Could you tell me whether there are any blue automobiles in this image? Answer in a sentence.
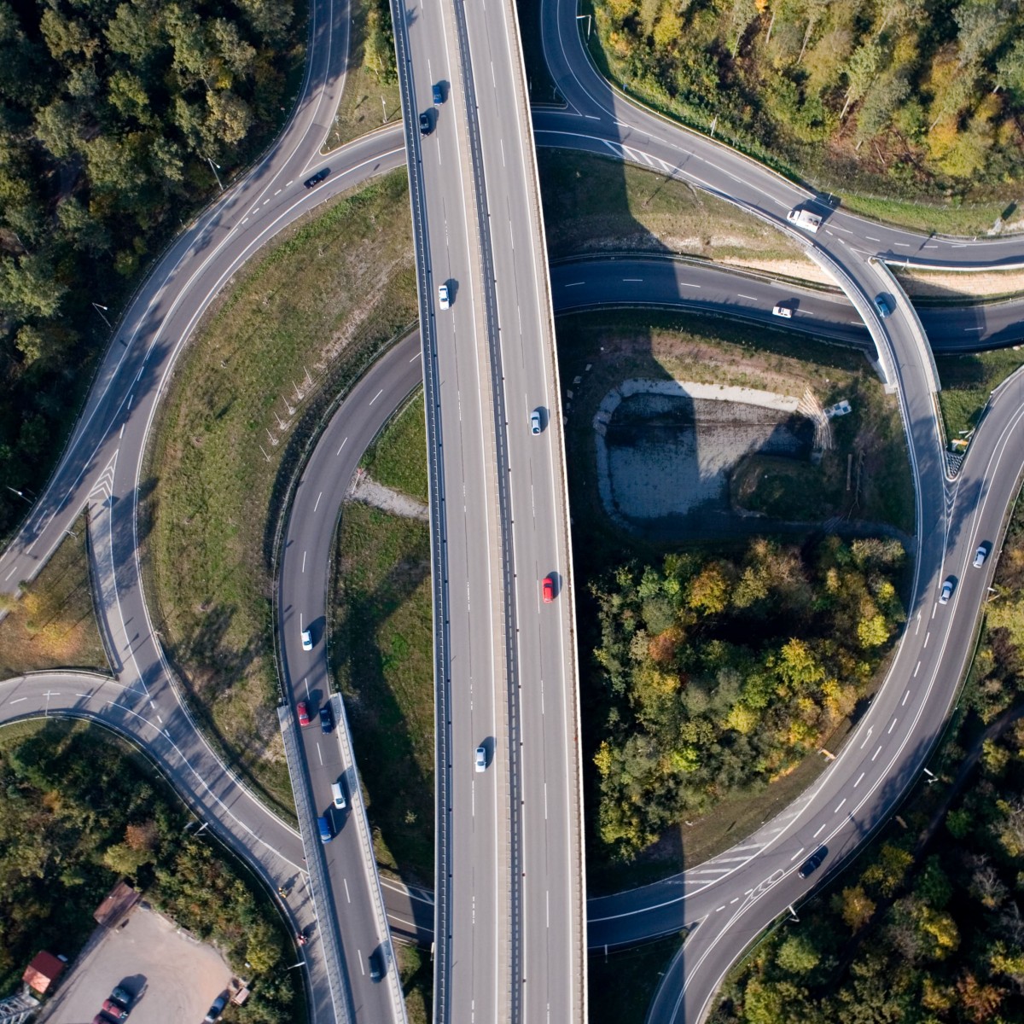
Yes, there's a blue automobile here.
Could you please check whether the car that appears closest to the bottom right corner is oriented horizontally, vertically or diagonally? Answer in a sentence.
In this picture, the car that appears closest to the bottom right corner is oriented diagonally.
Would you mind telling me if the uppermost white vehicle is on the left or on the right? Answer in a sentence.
The uppermost white vehicle is on the right side of the image.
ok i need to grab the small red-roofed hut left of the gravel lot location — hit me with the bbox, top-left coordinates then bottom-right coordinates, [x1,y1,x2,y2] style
[20,946,68,996]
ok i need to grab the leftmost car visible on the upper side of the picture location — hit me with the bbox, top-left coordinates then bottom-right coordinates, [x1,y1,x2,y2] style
[303,172,326,189]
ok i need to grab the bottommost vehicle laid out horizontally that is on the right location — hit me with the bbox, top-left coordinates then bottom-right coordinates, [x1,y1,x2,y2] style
[770,306,794,319]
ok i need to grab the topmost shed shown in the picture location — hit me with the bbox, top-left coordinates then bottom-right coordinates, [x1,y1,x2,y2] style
[90,876,145,936]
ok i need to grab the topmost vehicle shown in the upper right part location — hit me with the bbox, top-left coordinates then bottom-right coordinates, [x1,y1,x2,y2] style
[786,211,822,233]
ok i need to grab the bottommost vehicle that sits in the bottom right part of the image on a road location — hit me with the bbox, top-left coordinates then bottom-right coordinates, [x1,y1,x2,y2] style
[800,851,823,876]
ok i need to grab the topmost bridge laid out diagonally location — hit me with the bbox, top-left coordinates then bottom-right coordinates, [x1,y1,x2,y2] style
[805,250,942,396]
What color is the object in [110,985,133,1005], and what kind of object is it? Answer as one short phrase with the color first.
blue car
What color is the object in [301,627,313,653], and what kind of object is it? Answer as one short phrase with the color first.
white vehicle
